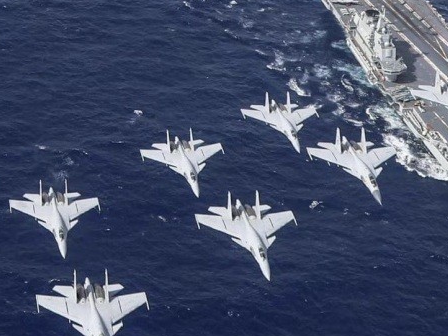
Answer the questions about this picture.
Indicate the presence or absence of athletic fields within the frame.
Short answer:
No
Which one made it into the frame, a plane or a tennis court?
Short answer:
plane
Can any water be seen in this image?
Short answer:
Yes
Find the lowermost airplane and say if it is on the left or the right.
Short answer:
left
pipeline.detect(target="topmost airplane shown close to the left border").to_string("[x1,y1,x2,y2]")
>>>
[9,177,101,258]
